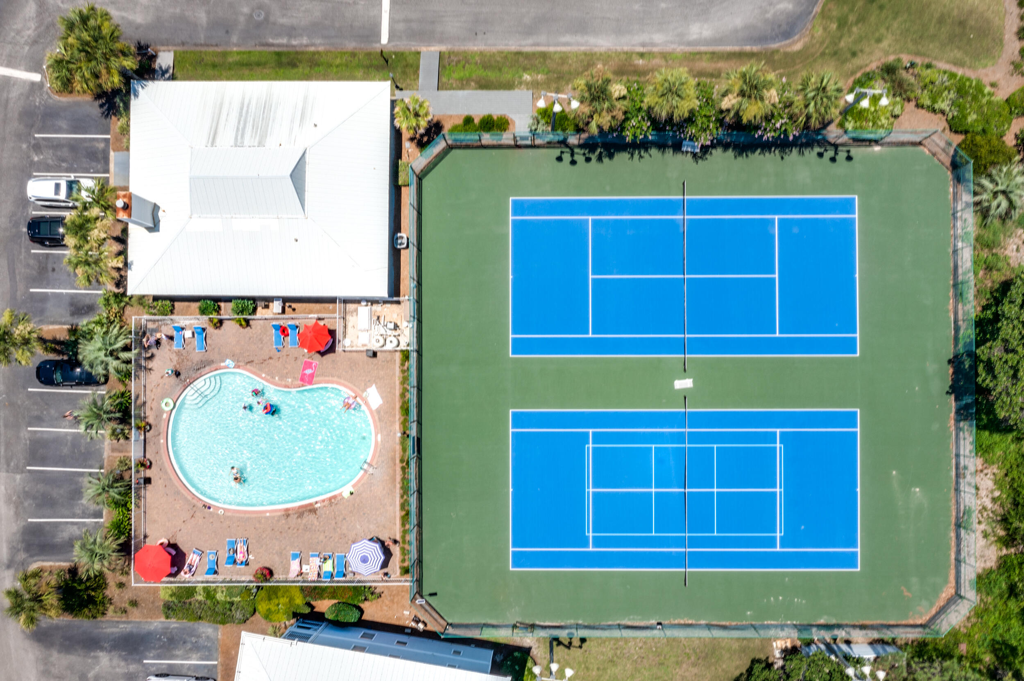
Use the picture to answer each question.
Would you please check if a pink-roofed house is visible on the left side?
No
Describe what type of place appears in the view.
sports ground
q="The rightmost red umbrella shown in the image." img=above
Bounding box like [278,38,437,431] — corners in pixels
[298,319,331,353]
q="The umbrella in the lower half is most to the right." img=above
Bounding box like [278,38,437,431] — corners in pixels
[347,538,385,577]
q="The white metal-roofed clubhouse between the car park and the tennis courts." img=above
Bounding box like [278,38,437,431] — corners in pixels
[115,80,394,298]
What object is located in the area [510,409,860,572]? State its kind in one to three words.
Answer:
tennis court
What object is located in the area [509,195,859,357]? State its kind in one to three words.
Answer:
tennis court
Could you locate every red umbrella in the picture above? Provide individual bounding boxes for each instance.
[136,547,172,581]
[298,319,331,353]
